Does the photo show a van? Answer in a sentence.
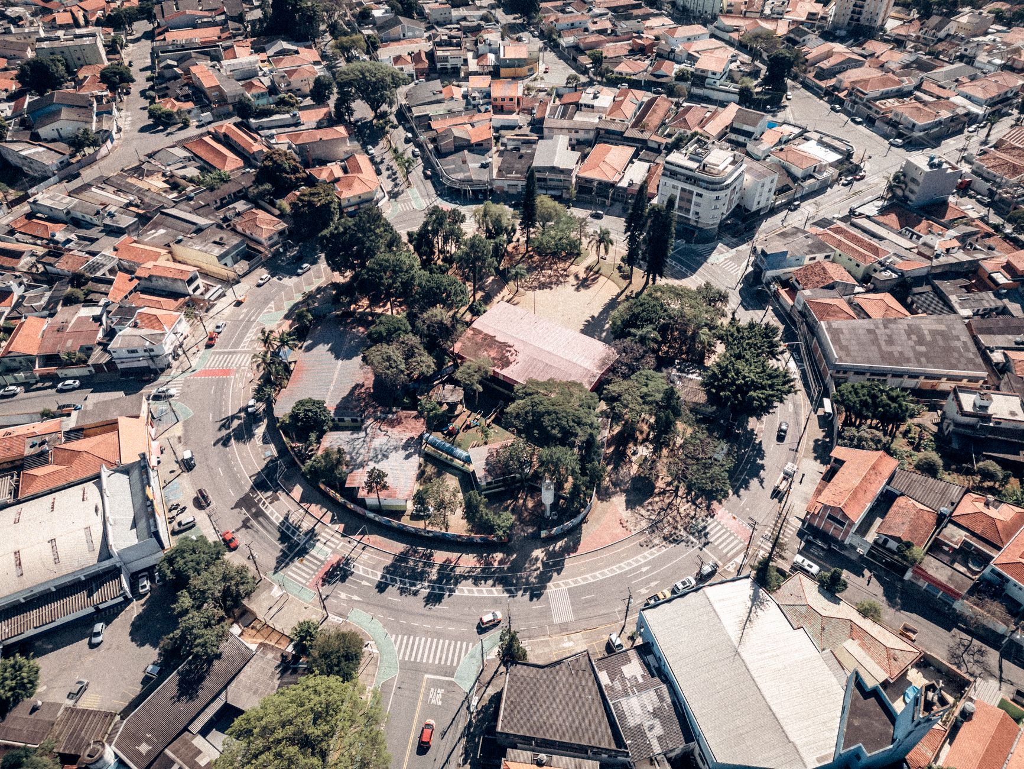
Yes, I can see a van in this picture.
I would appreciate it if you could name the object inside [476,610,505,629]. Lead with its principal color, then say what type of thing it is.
white car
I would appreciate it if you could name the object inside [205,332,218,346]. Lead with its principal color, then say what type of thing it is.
red vehicle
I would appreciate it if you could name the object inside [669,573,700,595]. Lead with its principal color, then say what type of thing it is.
white car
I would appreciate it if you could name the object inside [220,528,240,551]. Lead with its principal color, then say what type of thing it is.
red car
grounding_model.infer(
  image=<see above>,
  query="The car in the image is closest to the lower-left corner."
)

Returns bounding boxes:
[59,671,94,707]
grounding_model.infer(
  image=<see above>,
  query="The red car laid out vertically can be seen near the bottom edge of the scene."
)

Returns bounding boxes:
[417,717,436,750]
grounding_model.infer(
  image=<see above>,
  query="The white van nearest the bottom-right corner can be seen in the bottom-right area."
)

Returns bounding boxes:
[788,546,824,578]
